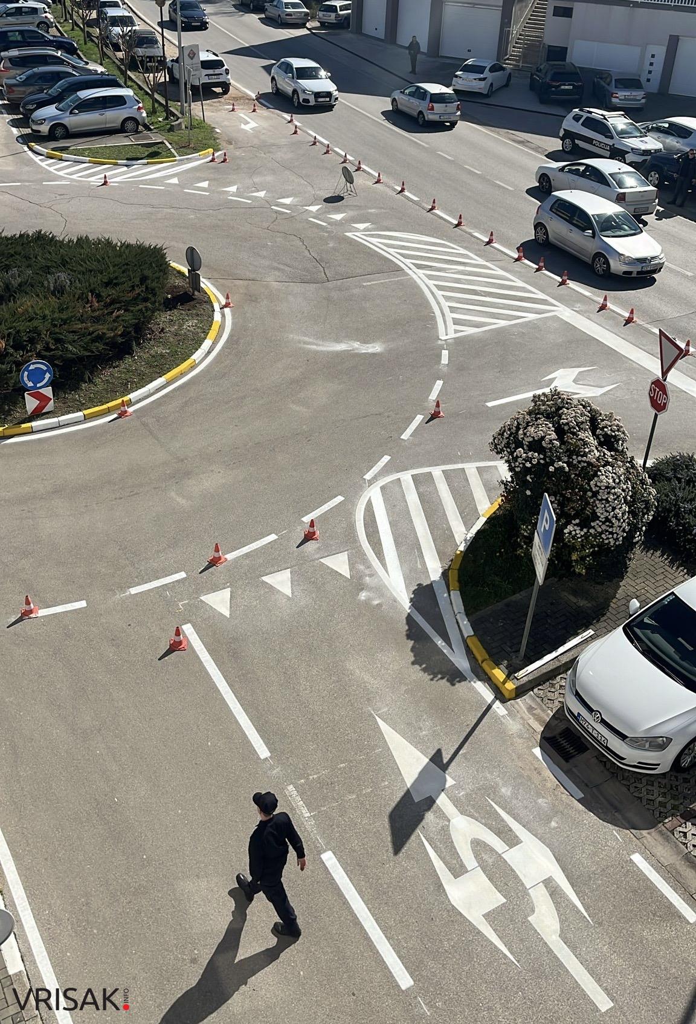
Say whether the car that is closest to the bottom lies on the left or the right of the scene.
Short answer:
right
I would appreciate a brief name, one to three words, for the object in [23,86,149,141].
car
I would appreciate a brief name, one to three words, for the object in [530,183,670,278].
car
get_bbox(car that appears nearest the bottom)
[561,590,696,777]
